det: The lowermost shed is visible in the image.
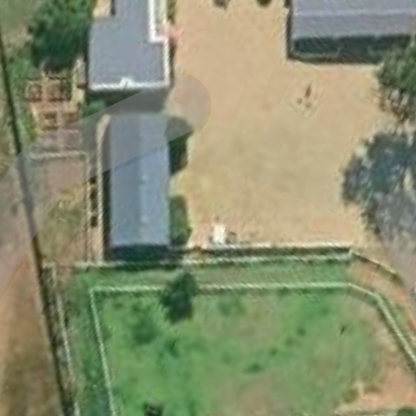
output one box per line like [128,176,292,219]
[110,113,171,254]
